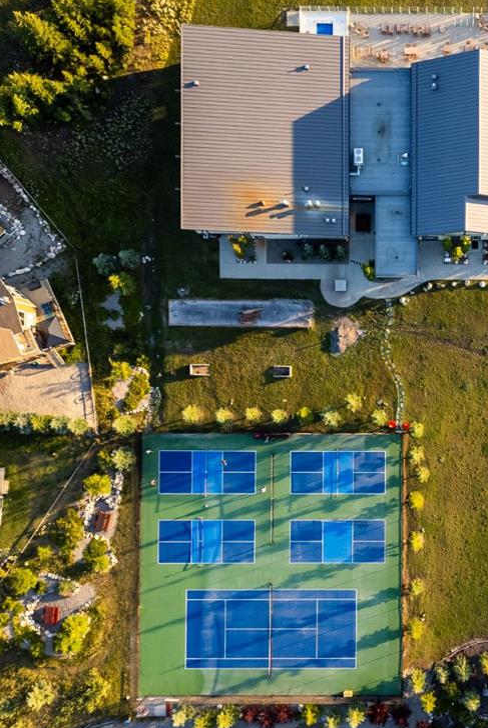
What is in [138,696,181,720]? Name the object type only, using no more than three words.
shed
